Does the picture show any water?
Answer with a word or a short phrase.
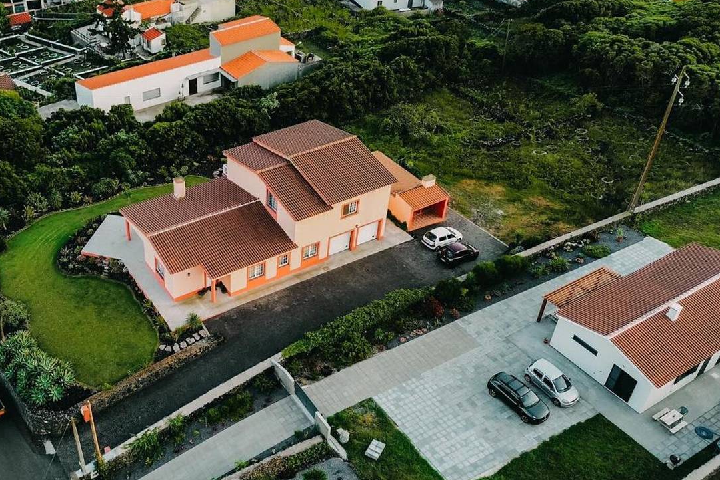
No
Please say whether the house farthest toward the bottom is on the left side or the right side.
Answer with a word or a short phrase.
right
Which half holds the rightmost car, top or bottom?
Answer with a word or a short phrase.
bottom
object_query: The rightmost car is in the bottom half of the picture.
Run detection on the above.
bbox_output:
[521,359,587,406]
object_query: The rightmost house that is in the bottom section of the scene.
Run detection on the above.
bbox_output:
[548,242,720,409]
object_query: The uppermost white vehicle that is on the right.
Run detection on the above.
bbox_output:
[420,228,464,254]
